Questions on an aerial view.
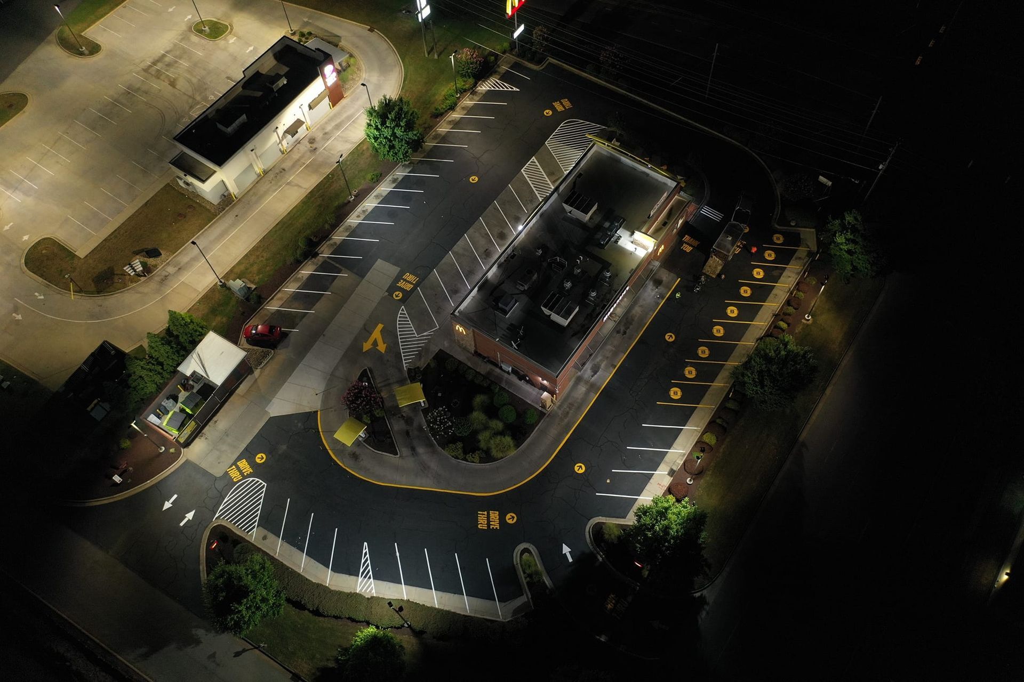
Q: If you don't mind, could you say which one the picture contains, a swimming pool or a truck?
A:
truck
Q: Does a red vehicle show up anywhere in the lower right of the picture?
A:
No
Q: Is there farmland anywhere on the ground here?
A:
No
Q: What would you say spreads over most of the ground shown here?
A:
paved ground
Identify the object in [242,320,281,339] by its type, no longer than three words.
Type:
car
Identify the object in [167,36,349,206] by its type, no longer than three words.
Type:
building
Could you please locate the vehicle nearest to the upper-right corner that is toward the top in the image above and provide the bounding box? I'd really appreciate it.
[702,197,754,278]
